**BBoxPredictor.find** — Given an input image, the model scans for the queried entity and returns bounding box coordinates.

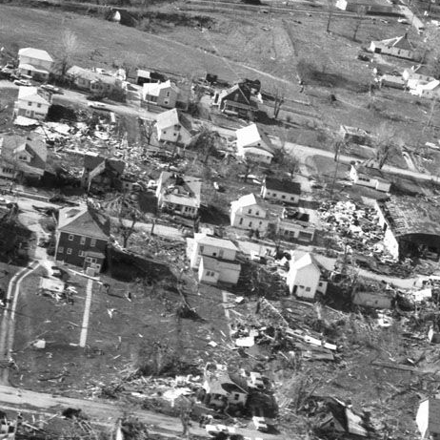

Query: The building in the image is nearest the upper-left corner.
[19,51,56,85]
